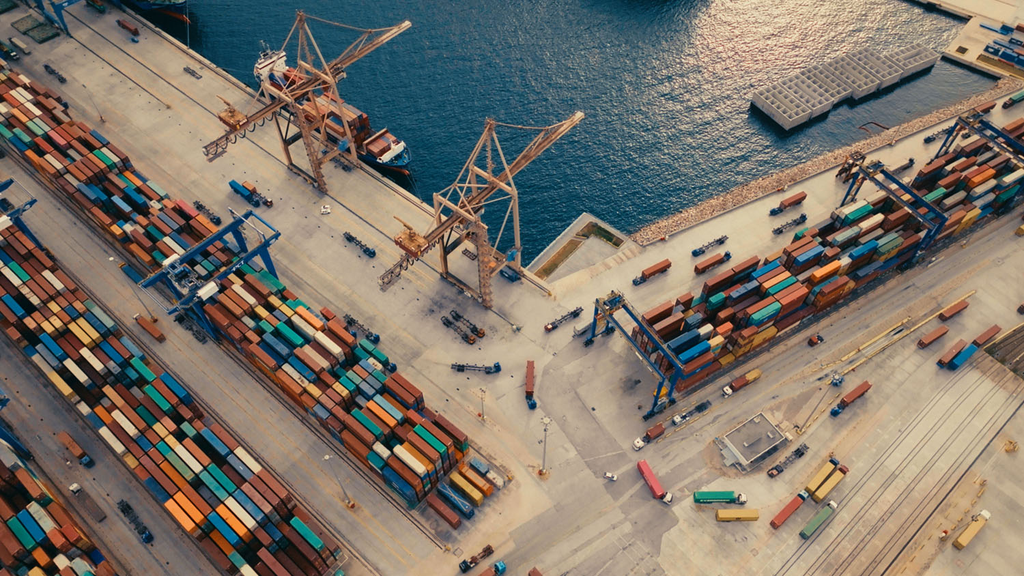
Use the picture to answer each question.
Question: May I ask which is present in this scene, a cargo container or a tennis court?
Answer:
cargo container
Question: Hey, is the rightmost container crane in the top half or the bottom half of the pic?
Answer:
top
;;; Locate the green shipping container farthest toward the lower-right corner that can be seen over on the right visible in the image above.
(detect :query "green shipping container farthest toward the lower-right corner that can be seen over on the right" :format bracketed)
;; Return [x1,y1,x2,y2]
[800,505,835,540]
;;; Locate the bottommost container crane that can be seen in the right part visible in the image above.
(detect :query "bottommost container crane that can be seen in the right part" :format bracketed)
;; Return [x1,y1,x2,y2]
[585,288,688,418]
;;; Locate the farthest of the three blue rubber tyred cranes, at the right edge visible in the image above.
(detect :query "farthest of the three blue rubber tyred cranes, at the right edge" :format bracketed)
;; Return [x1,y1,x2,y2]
[930,111,1024,213]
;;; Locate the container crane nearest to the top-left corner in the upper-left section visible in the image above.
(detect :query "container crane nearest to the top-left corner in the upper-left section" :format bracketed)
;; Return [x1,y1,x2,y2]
[35,0,87,37]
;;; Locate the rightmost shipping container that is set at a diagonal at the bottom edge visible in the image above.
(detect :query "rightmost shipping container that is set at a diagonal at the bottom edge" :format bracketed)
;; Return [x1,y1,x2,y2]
[953,514,989,549]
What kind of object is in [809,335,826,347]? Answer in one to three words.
vehicle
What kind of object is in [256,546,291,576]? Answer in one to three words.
shipping container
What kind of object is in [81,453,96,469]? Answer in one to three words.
vehicle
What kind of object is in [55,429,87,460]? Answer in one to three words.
shipping container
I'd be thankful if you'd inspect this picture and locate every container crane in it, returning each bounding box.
[137,208,282,342]
[585,288,688,418]
[0,178,50,256]
[836,158,955,269]
[195,5,411,195]
[374,109,588,310]
[930,111,1024,213]
[35,0,87,37]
